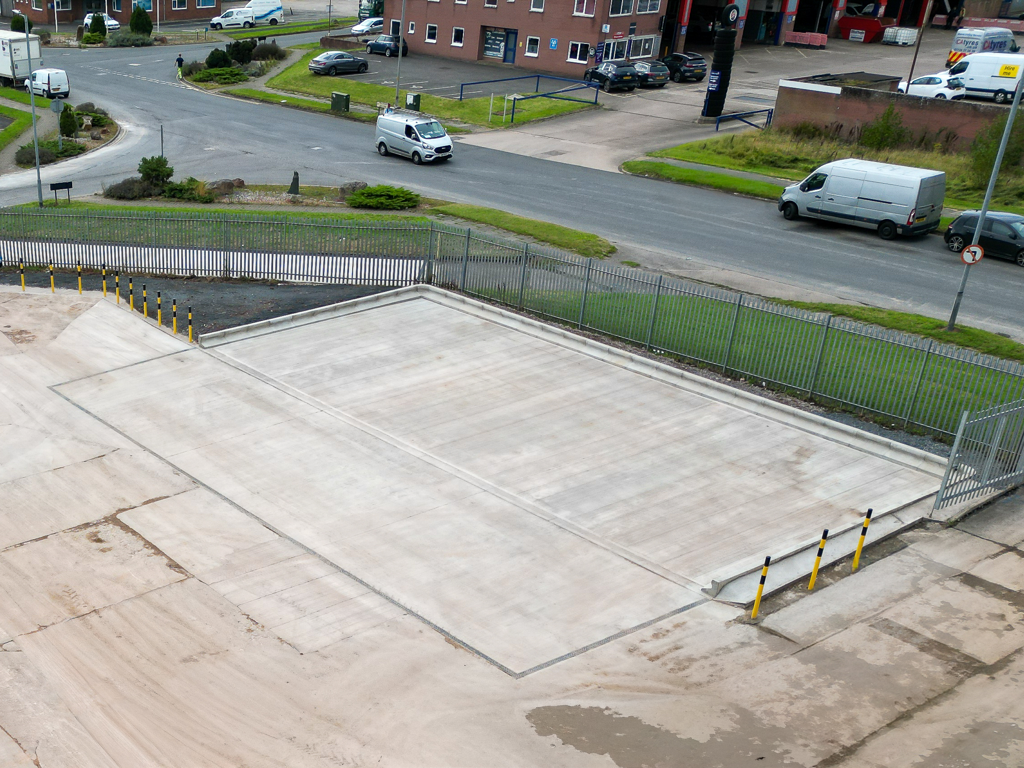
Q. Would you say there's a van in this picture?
Yes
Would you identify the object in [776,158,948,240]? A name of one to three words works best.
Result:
van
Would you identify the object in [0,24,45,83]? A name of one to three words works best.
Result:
truck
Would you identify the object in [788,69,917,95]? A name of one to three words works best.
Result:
building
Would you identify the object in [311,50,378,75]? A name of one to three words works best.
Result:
car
